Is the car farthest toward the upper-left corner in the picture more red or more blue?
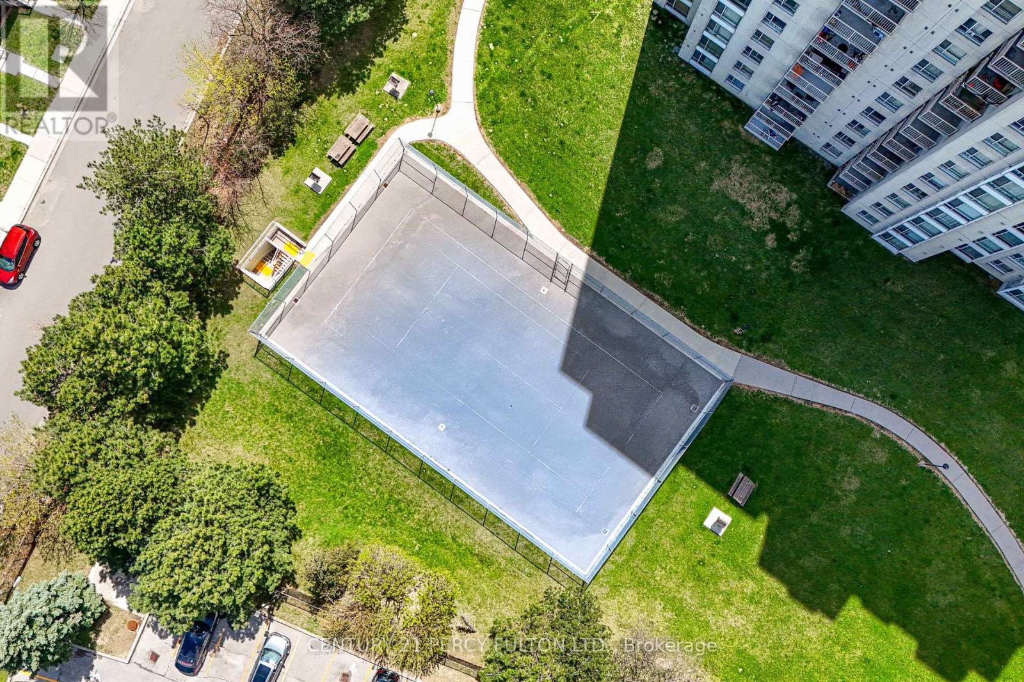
red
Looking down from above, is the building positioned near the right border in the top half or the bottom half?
top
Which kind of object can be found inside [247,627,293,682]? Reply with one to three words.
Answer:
car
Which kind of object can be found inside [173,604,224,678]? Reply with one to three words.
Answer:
car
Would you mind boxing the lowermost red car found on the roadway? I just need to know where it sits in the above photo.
[0,222,39,282]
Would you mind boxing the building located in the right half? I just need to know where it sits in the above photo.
[653,0,1024,315]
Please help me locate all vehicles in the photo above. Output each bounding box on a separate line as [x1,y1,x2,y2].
[173,604,224,678]
[0,222,39,282]
[247,627,293,682]
[371,657,404,682]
